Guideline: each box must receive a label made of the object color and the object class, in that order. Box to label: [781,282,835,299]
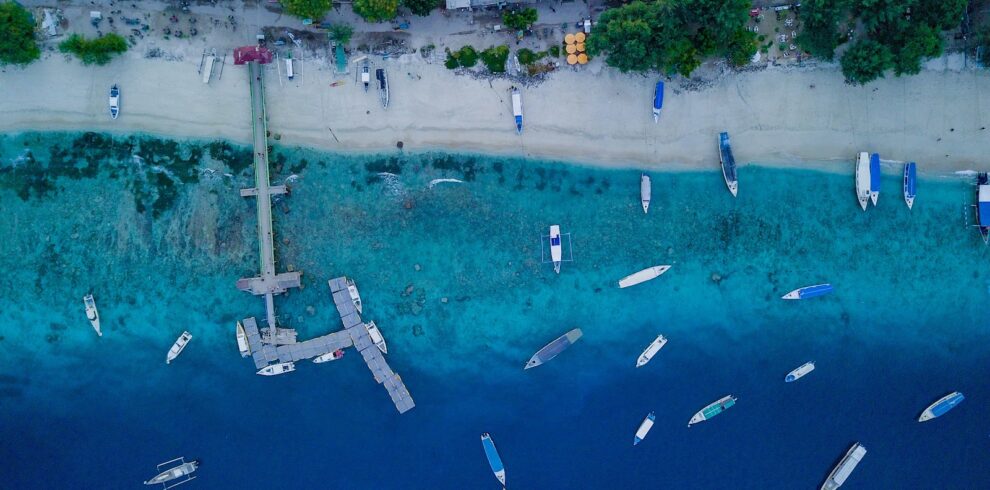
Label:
blue boat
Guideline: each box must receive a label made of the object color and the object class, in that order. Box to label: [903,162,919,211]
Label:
blue boat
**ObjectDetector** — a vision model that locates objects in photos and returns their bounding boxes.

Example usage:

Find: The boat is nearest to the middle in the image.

[539,224,564,274]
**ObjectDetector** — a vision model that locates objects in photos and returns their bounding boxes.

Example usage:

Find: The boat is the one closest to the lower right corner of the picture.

[917,391,969,422]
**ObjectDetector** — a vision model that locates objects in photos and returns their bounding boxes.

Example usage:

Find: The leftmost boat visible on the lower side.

[84,294,102,337]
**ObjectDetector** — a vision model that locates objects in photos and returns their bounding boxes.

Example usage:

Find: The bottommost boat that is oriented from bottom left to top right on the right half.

[821,440,869,490]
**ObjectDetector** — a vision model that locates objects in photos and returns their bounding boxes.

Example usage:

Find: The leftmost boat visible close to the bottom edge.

[144,455,198,488]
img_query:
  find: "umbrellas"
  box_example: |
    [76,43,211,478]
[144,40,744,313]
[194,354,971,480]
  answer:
[574,32,585,43]
[565,34,575,43]
[566,43,576,54]
[576,43,585,52]
[567,54,577,65]
[577,53,588,64]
